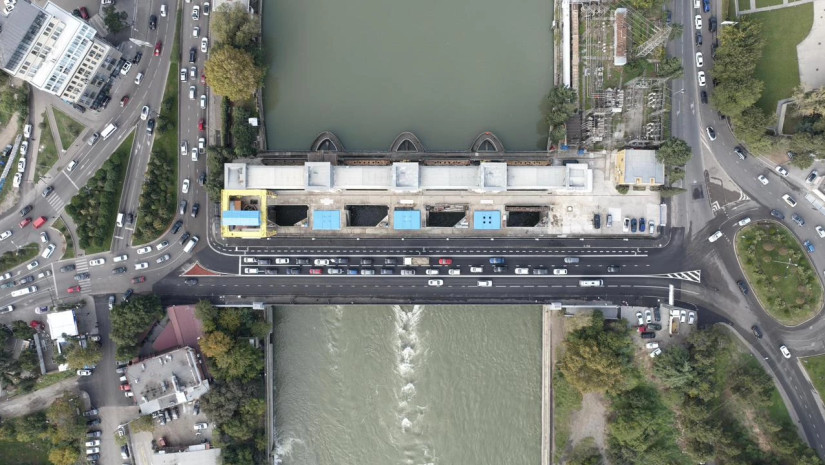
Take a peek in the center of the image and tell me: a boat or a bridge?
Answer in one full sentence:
The feature located in the center of the image is a bridge.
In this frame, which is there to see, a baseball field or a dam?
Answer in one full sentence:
Looking from above, you can make out a dam.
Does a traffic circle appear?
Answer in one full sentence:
Yes, you can see a traffic circle in this photo.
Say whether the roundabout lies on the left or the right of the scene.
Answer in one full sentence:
It is on the right.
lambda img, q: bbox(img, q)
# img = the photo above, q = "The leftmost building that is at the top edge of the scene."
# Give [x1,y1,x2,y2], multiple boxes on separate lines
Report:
[0,2,127,112]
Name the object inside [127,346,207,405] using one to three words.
building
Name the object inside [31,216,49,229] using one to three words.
vehicle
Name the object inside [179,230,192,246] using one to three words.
vehicle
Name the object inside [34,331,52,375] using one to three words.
shed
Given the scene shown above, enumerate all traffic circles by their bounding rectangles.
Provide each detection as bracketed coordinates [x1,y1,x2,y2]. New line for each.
[736,220,824,327]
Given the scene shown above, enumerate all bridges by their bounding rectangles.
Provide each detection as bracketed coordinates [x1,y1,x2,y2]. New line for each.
[139,200,705,307]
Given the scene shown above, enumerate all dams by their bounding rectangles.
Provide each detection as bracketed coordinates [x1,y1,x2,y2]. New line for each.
[222,131,670,238]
